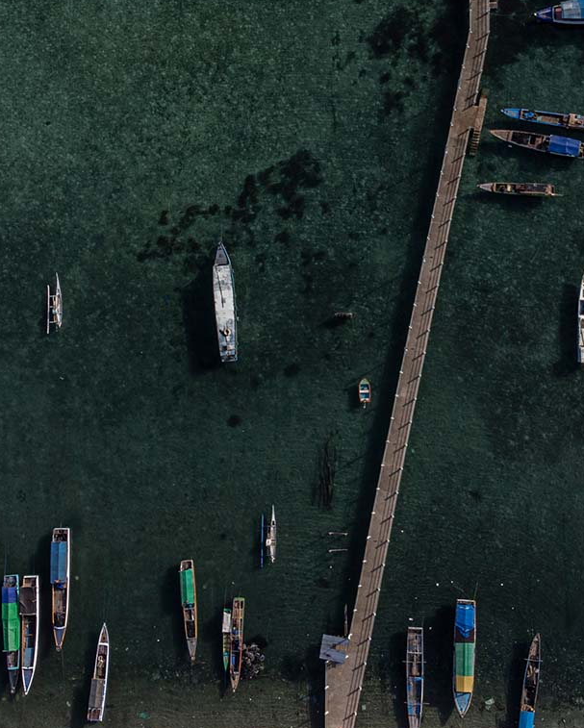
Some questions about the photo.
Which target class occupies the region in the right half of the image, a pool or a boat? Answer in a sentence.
Looking in the right half of the image, you will find a boat.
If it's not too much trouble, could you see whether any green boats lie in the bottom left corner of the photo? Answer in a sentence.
Yes, the scene does show a green boat in the bottom left corner of the photo.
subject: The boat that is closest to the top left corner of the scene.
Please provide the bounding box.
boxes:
[47,273,62,334]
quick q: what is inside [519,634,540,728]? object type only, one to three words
boat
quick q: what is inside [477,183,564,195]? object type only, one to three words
boat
